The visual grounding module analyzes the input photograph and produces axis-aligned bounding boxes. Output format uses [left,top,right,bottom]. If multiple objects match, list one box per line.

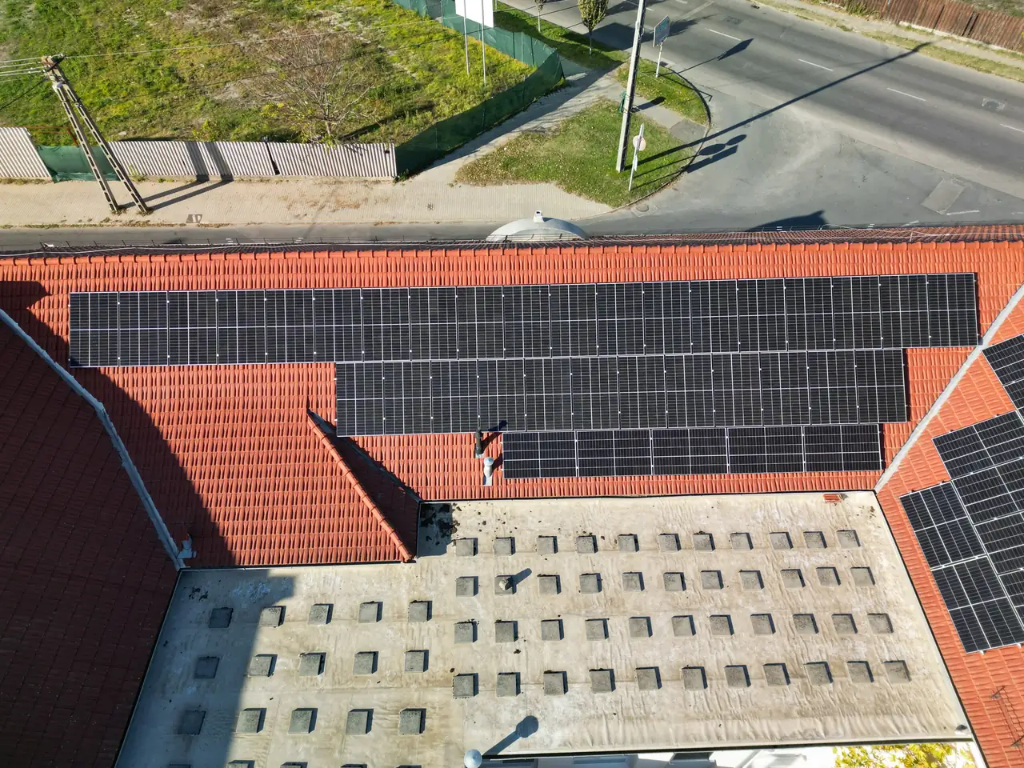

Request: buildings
[0,209,1024,768]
